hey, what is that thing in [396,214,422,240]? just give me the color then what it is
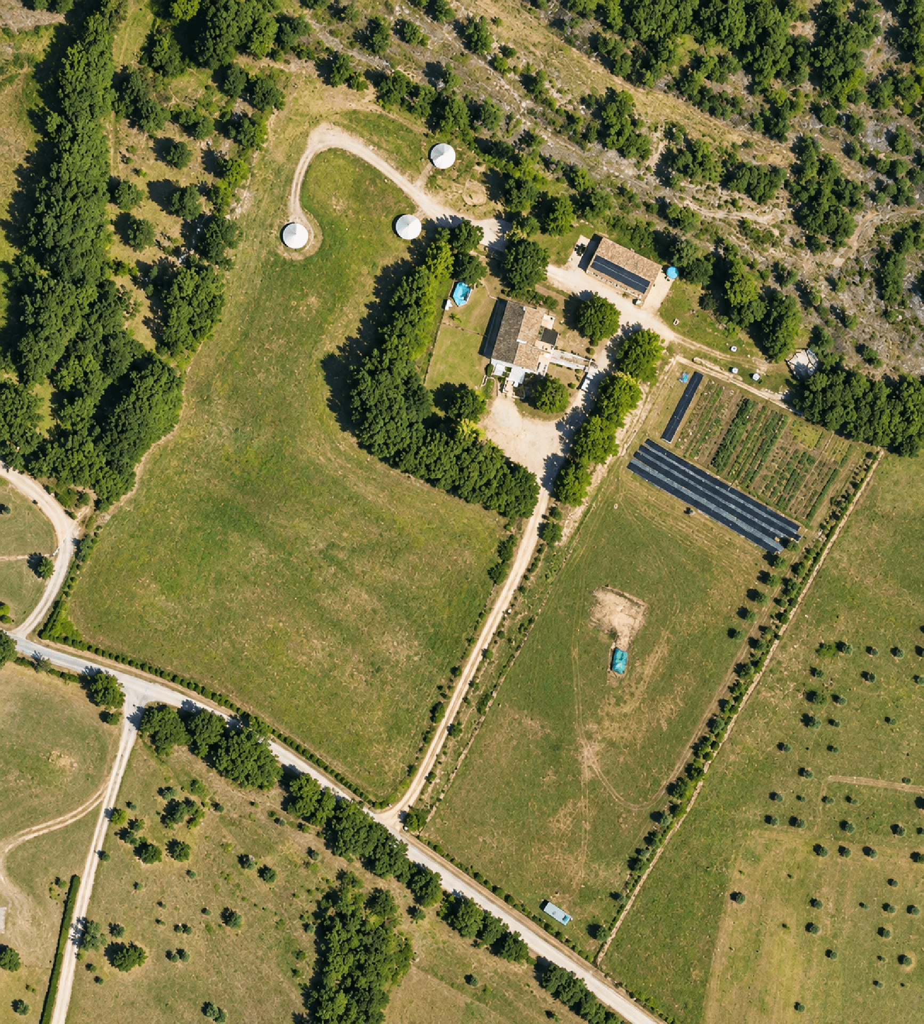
white tent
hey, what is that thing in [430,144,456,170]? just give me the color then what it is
white tent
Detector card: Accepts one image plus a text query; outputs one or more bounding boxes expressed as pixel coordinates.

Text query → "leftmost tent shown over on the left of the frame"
[282,223,308,249]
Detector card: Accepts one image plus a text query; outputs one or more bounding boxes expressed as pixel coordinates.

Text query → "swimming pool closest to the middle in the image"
[453,282,471,306]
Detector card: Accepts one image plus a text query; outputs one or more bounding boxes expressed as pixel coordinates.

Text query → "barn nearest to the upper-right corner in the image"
[587,238,661,298]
